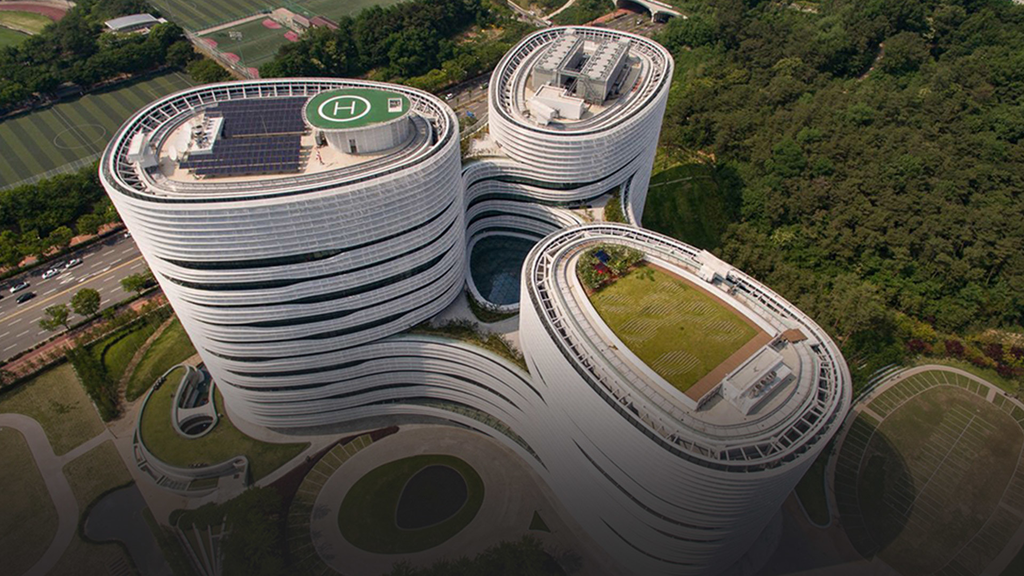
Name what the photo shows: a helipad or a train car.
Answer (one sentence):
This aerial view contains a helipad.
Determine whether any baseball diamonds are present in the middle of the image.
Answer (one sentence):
No, there is no baseball diamond in the middle of the image.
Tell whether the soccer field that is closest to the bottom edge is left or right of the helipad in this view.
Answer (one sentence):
Compared with the helipad, the soccer field that is closest to the bottom edge is located further to the left.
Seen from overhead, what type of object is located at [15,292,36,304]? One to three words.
vehicle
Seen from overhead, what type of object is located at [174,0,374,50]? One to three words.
sports field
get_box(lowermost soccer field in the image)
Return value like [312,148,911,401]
[0,63,205,188]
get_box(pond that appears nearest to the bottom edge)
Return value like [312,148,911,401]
[397,465,466,527]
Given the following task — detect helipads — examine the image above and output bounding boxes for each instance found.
[297,84,419,161]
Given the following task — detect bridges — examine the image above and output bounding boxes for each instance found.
[643,0,708,26]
